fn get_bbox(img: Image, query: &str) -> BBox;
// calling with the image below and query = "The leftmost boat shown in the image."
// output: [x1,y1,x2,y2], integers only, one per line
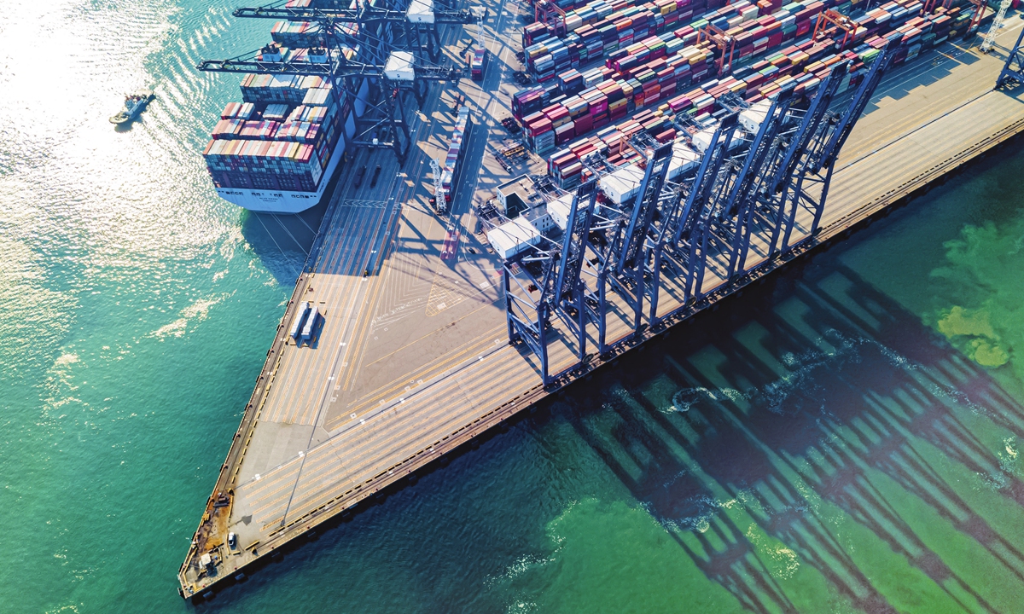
[107,87,157,120]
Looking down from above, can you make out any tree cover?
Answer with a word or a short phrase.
No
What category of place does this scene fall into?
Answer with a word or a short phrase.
port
